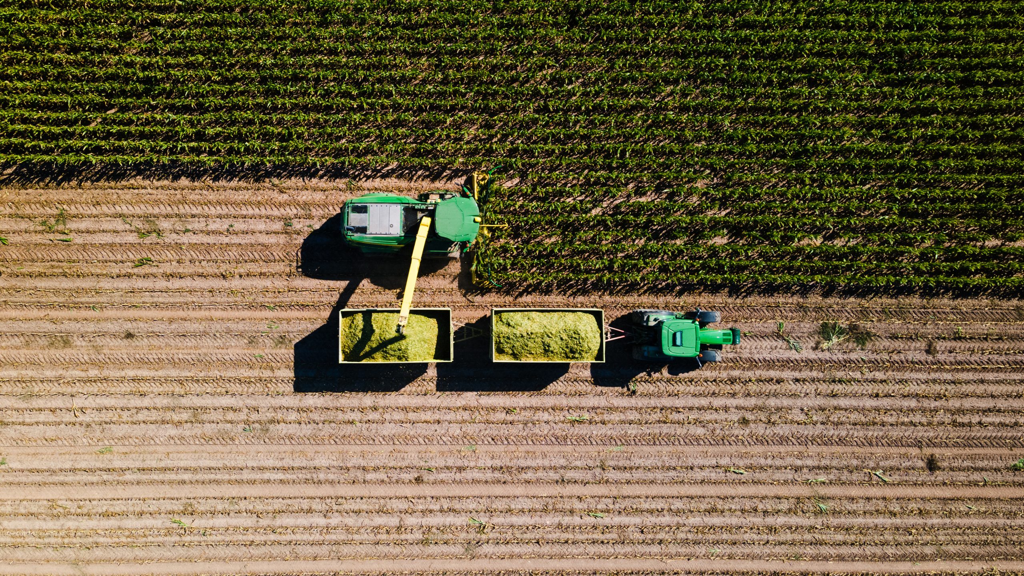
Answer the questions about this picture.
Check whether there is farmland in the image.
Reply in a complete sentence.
Yes, farmland shows up in the scene.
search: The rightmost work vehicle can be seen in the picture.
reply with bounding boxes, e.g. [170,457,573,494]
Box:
[623,306,740,371]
